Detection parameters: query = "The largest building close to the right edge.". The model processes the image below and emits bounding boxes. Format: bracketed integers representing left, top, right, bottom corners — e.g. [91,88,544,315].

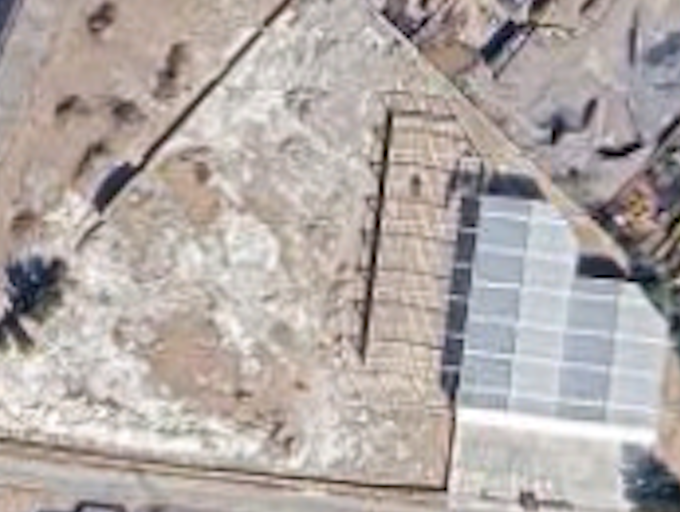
[444,198,670,440]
